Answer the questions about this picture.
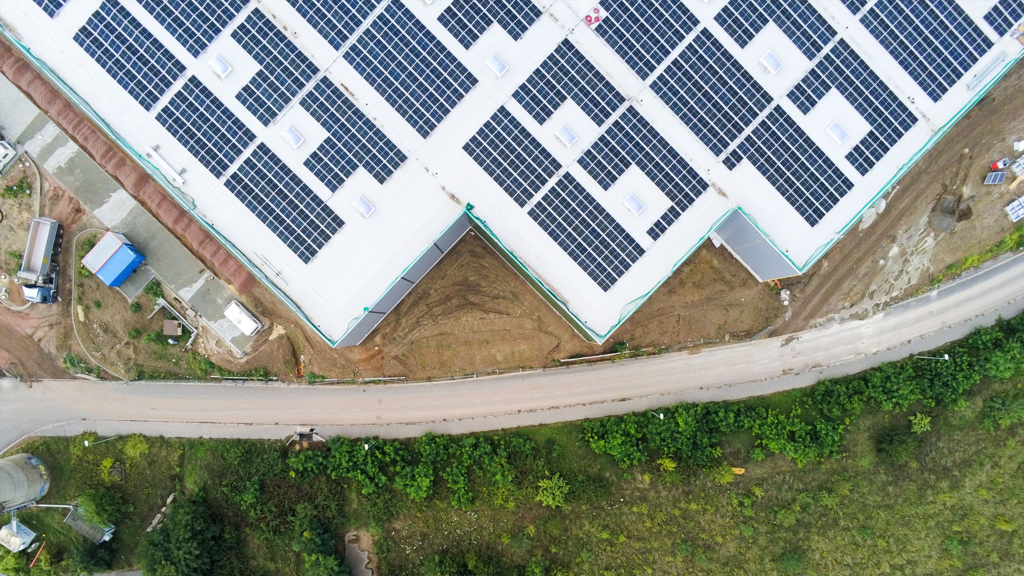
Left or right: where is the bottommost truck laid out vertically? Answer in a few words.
left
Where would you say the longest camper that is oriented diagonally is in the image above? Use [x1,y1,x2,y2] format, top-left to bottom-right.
[226,303,262,336]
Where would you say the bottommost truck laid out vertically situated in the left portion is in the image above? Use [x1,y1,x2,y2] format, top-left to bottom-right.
[18,218,63,304]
